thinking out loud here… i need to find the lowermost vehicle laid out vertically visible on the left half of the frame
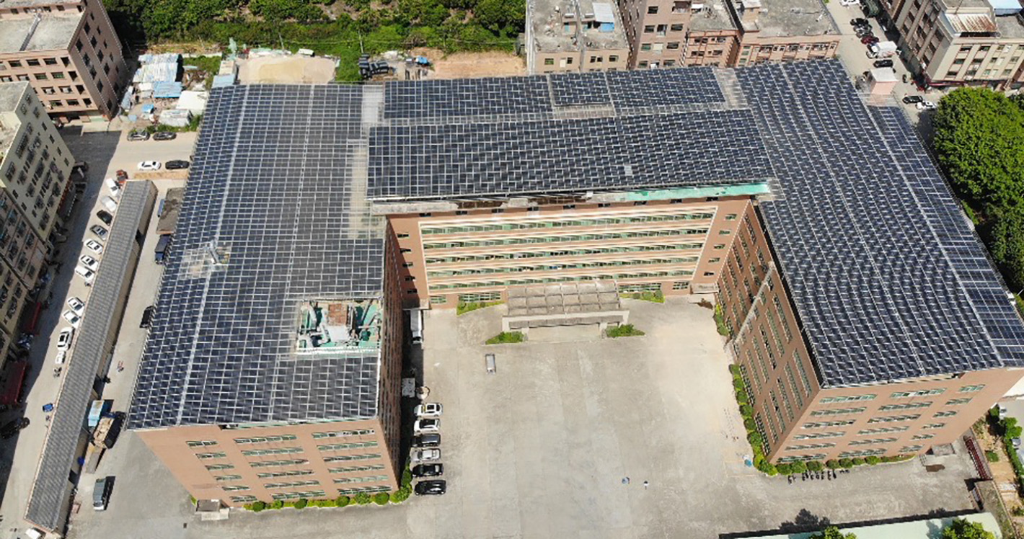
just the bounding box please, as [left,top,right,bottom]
[92,476,113,511]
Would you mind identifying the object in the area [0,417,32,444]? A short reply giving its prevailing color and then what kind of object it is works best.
black car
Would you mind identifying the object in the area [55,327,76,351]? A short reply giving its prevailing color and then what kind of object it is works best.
white car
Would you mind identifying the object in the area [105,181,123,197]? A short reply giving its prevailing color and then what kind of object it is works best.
white car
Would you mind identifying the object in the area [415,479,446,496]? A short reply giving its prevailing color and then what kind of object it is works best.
black car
